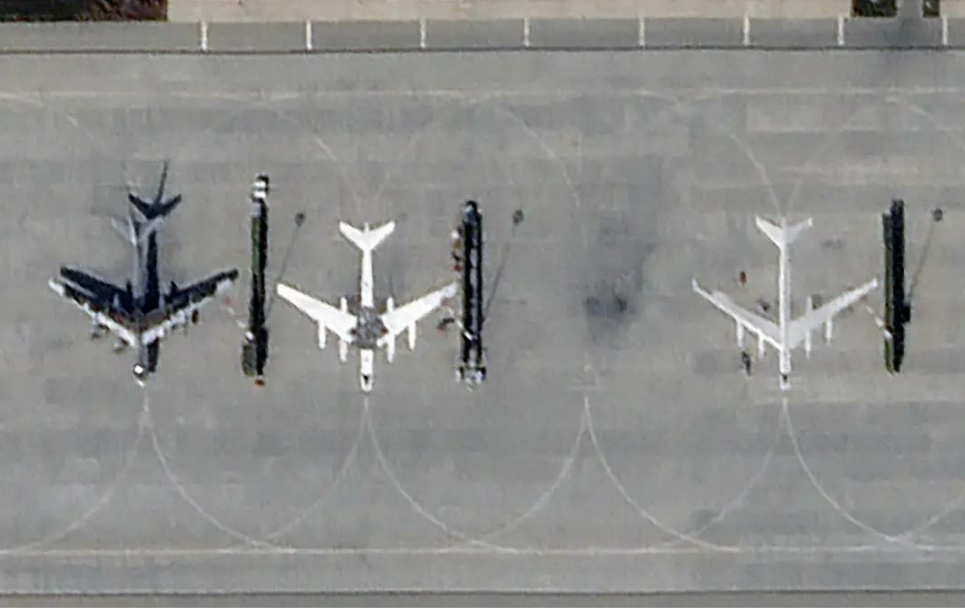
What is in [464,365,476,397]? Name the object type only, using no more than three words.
vehicle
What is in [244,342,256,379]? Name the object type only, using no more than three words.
vehicle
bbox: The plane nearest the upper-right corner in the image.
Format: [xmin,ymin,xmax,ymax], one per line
[693,217,877,388]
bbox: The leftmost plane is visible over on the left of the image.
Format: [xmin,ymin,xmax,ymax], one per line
[50,200,230,386]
